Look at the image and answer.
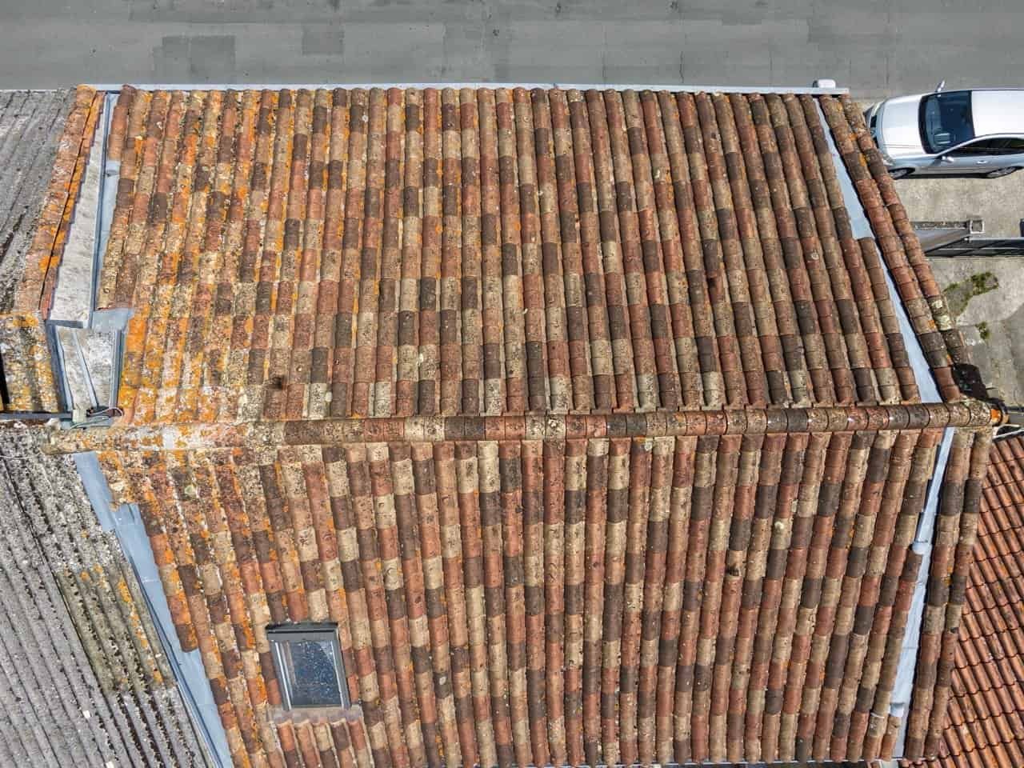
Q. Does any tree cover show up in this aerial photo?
No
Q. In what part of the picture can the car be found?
top right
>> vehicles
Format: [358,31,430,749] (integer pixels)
[860,85,1024,176]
